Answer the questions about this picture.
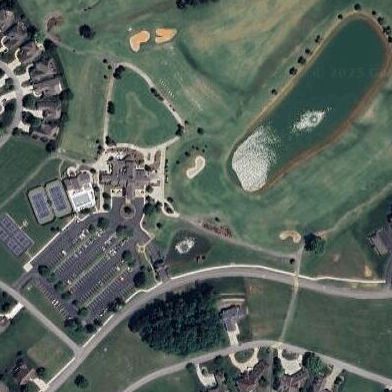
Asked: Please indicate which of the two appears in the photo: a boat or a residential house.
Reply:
residential house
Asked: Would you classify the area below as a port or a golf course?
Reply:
golf course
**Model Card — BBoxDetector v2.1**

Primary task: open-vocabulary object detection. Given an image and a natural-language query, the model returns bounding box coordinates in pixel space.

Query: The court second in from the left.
[29,187,54,223]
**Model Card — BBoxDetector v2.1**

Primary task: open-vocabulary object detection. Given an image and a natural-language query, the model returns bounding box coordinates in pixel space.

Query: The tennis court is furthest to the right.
[47,181,71,216]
